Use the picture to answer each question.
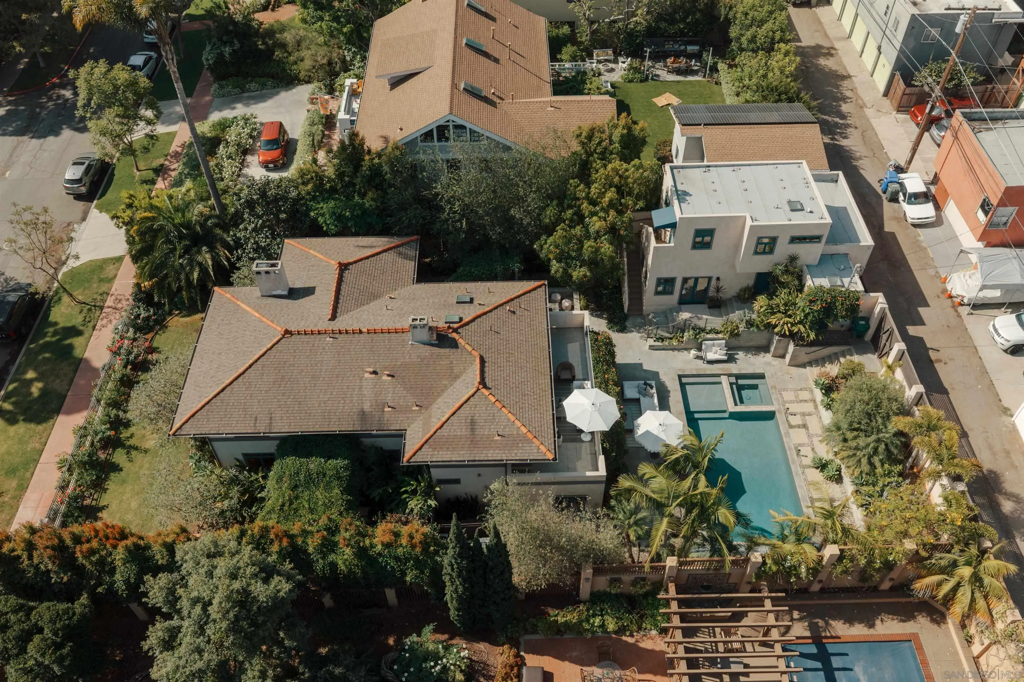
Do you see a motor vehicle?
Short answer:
Yes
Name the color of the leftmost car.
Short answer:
black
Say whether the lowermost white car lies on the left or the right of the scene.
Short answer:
right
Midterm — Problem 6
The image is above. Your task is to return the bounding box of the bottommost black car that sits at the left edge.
[0,272,47,338]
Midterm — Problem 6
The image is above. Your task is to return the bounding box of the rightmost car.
[993,304,1024,351]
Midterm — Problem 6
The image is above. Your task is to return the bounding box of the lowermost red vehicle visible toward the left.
[255,115,294,167]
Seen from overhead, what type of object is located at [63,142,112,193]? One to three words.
car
